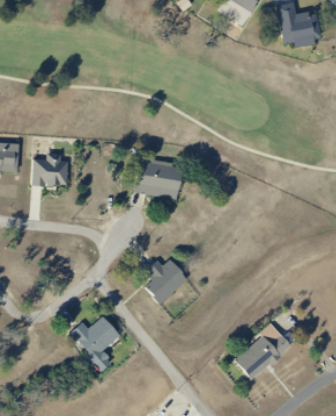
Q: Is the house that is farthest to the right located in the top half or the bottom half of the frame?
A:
top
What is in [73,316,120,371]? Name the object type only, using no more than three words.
house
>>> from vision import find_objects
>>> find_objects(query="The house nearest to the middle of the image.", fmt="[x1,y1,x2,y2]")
[136,160,182,200]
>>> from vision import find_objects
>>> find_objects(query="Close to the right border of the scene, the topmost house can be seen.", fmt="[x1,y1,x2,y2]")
[282,0,322,46]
